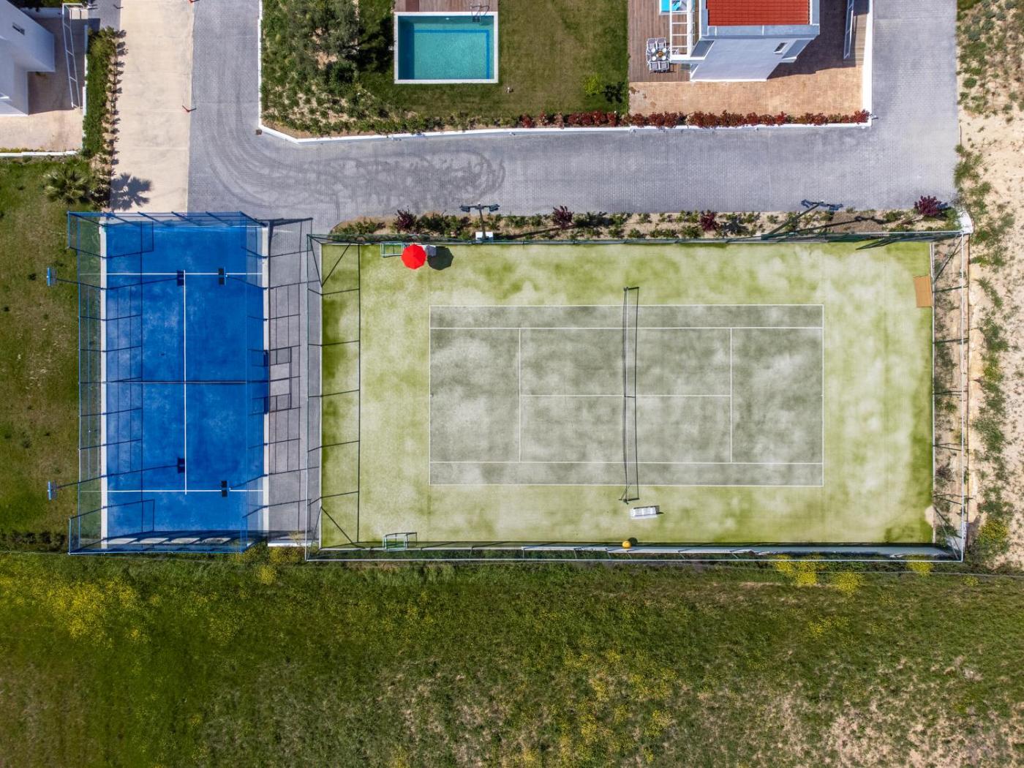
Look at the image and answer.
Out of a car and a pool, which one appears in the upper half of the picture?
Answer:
pool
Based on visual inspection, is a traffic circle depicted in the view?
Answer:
No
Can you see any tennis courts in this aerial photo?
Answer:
Yes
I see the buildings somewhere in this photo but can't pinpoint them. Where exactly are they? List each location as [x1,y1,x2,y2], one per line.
[0,0,55,115]
[688,0,819,80]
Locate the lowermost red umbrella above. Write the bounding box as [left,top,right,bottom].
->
[402,243,427,269]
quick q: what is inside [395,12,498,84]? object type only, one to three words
swimming pool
